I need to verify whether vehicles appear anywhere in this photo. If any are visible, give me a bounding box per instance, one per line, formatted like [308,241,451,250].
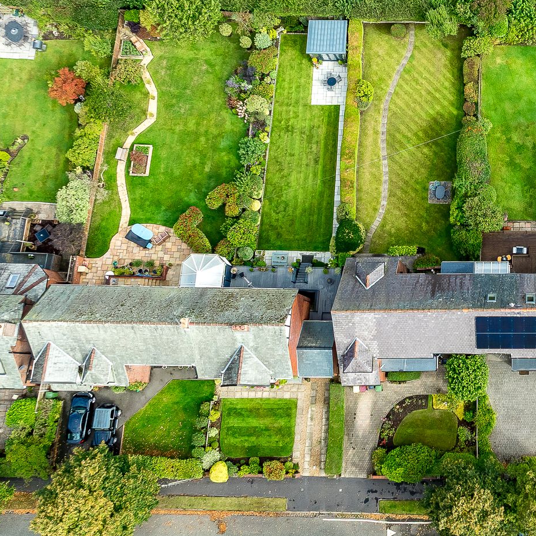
[90,399,122,448]
[64,392,98,447]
